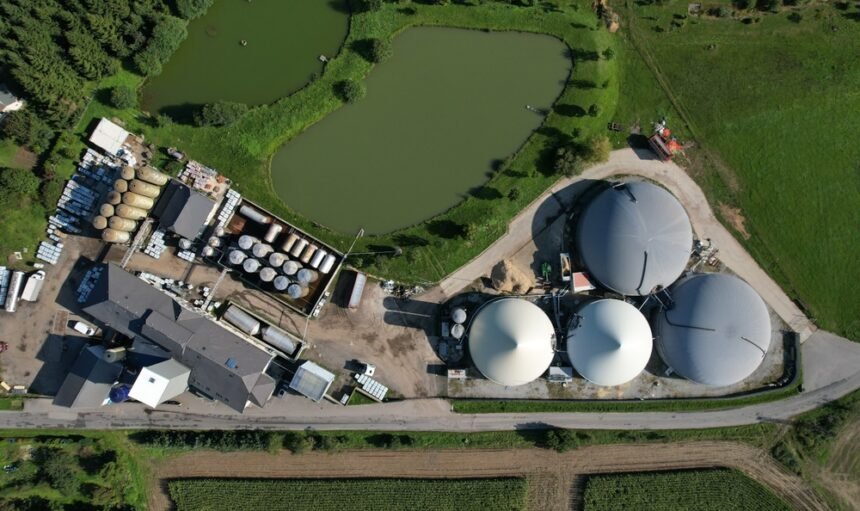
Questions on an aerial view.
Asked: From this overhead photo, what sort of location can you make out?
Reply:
industrial area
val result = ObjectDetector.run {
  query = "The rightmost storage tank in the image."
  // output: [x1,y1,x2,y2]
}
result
[651,271,771,387]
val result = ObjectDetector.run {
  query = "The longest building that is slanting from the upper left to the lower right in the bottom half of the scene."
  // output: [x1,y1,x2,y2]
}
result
[81,261,278,414]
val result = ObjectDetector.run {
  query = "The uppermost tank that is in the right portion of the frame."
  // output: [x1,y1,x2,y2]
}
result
[574,180,693,296]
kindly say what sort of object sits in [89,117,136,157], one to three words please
shed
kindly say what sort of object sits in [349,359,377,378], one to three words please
vehicle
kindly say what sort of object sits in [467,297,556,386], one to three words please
storage tank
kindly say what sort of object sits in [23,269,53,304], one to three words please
truck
